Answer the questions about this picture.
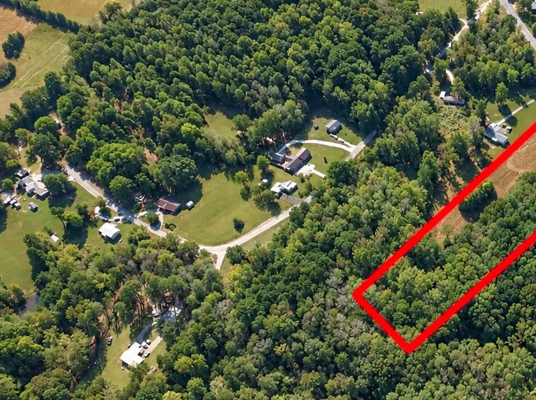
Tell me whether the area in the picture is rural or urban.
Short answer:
rural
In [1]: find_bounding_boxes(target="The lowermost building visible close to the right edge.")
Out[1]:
[484,125,510,145]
